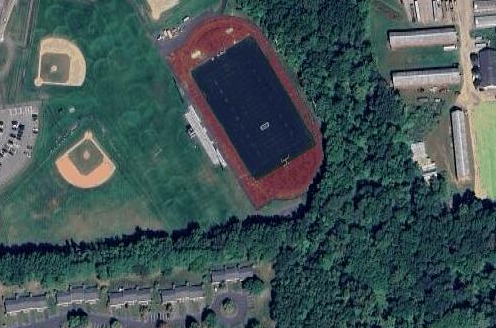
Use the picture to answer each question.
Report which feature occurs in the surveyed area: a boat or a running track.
running track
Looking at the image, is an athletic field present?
Yes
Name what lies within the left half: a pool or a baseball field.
baseball field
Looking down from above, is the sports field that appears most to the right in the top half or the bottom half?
top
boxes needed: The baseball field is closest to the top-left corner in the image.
[34,37,86,87]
